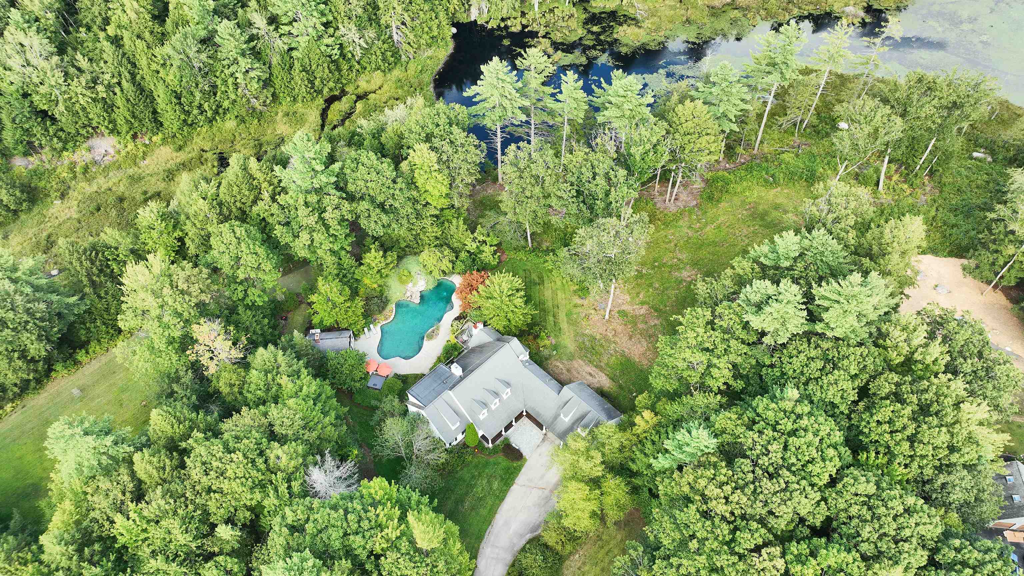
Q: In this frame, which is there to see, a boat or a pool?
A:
pool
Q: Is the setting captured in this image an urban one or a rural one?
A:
rural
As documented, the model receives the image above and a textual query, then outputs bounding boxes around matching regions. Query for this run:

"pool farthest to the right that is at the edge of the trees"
[376,277,457,361]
